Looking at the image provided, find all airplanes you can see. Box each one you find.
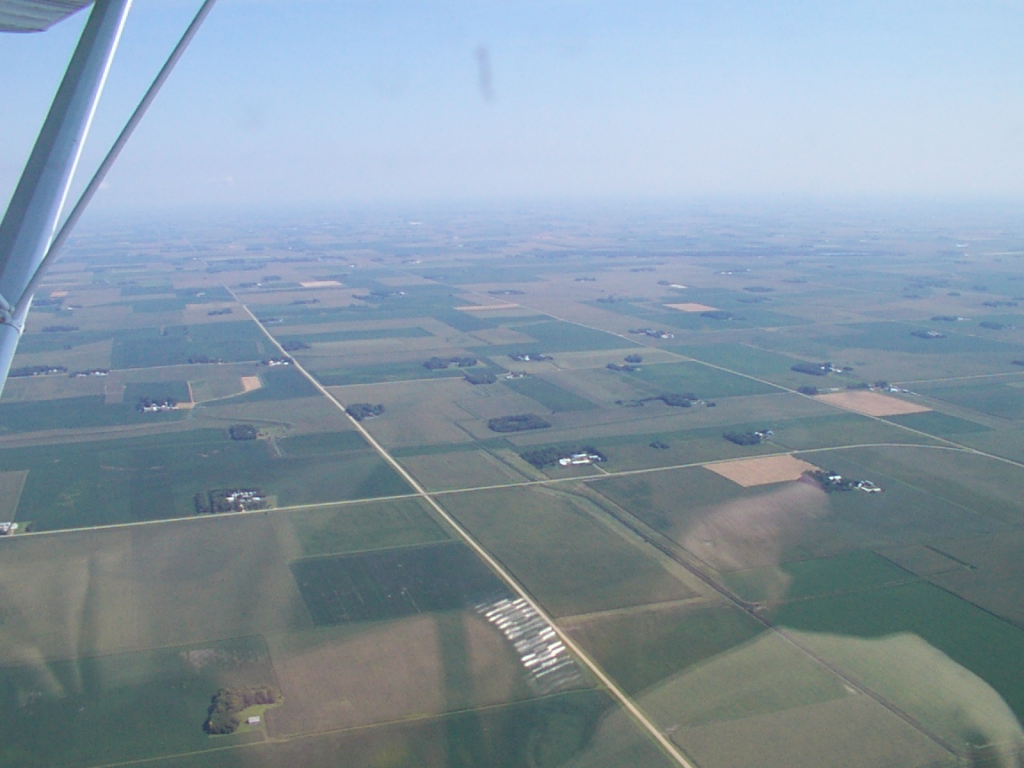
[0,0,213,365]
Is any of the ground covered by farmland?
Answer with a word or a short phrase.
Yes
